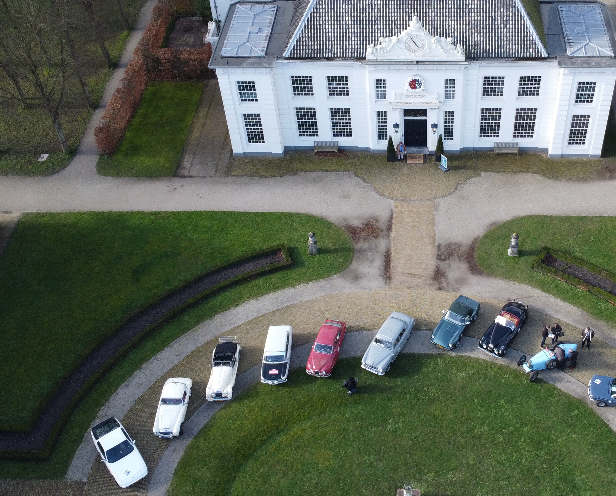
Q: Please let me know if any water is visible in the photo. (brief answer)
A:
No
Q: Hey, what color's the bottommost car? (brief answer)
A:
white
